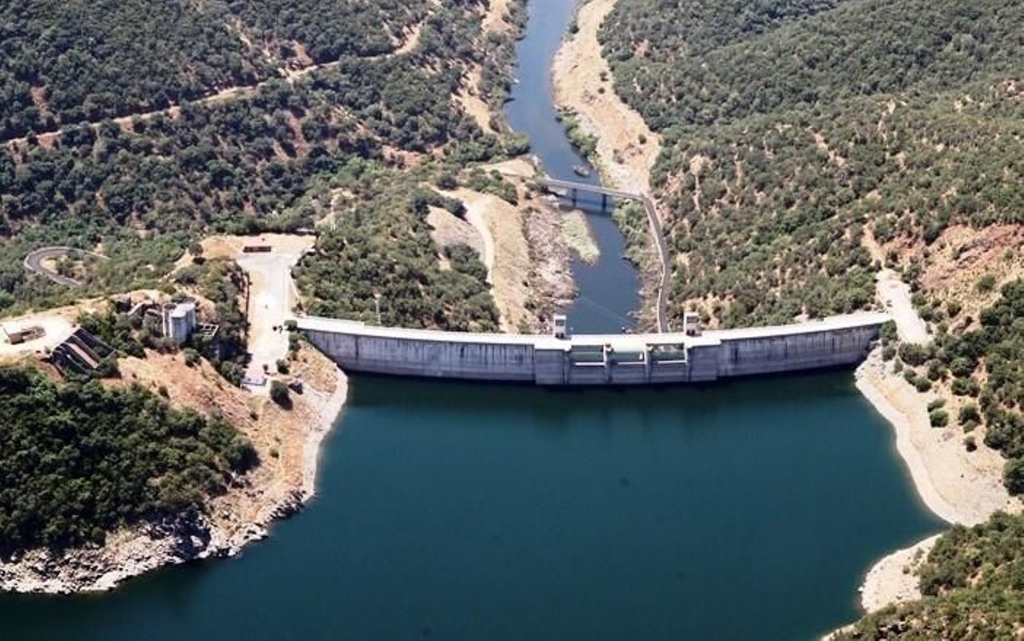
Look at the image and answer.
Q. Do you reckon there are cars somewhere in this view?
No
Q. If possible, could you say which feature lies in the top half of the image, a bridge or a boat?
bridge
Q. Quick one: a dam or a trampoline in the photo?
dam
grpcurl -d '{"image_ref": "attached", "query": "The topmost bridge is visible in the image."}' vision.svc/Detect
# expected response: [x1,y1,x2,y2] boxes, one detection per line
[535,176,648,209]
